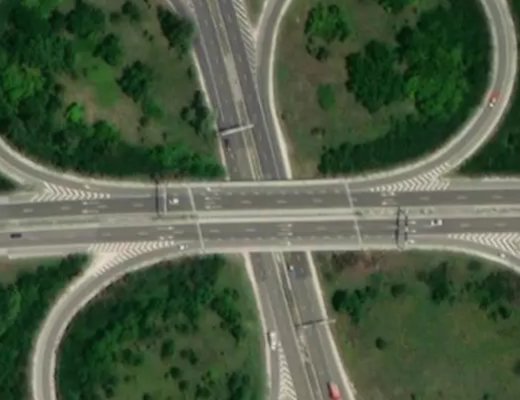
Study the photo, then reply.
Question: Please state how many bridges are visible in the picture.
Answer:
1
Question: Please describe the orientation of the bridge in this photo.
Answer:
horizontally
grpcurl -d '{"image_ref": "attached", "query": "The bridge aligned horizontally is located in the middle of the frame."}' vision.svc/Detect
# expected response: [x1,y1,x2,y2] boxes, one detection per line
[188,178,362,254]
